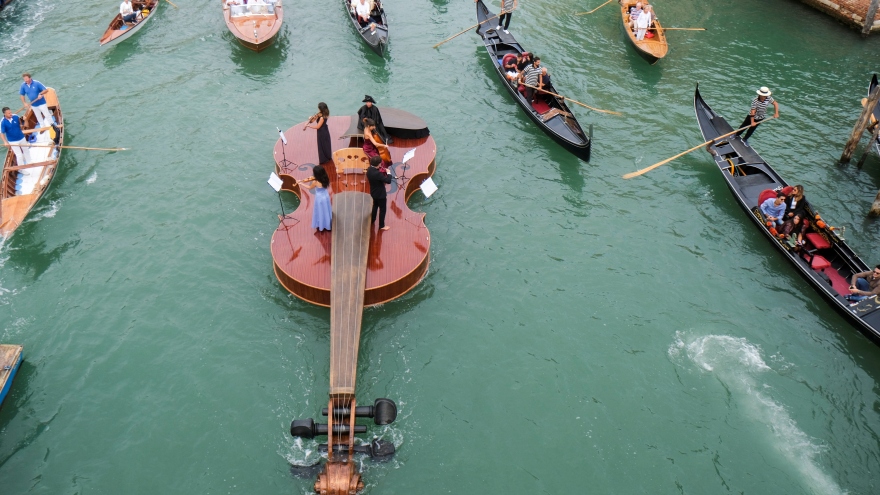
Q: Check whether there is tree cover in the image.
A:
No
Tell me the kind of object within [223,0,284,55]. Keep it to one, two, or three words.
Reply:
boat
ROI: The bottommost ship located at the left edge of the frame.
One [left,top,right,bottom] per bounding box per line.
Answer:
[0,345,29,412]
